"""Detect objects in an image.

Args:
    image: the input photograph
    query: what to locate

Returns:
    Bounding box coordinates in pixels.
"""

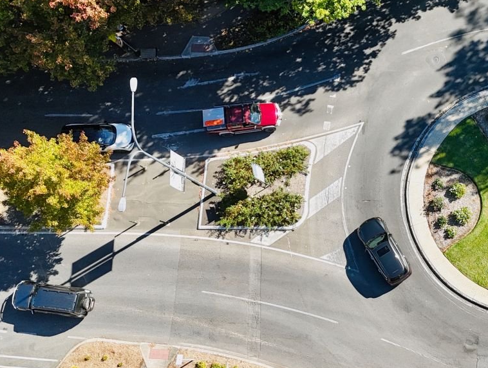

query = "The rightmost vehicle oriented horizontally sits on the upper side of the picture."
[201,101,281,138]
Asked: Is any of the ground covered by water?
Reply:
No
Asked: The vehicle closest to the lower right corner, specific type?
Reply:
automobile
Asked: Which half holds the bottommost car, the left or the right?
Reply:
left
